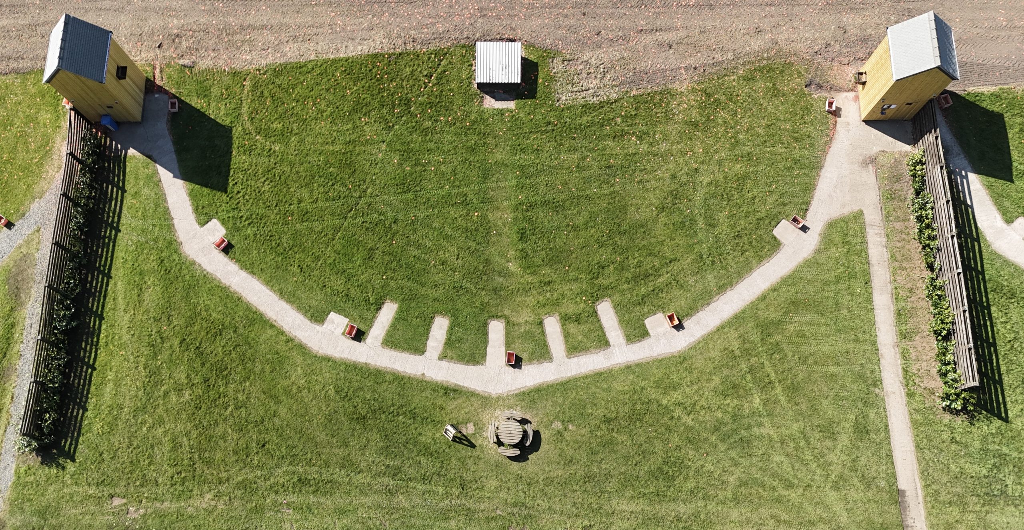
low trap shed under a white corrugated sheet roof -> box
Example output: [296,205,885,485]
[475,41,521,88]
